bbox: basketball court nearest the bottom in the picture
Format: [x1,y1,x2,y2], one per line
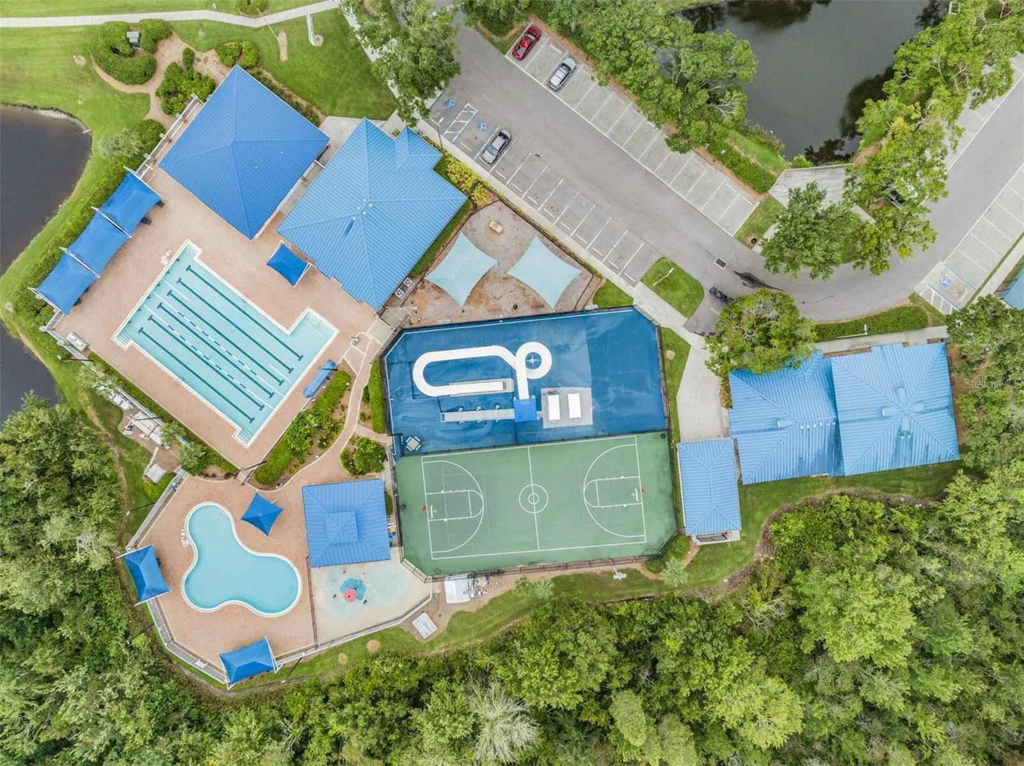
[397,432,677,576]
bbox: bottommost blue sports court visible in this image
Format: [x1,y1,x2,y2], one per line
[383,306,666,460]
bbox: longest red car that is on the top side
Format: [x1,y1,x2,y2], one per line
[511,26,542,64]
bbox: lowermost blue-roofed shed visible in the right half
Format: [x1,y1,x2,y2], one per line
[677,438,741,542]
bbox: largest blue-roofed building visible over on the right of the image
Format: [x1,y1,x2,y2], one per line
[728,337,961,486]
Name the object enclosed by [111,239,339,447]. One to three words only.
swimming pool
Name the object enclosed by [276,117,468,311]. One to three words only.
building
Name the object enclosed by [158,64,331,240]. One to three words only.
building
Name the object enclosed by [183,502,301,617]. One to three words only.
swimming pool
